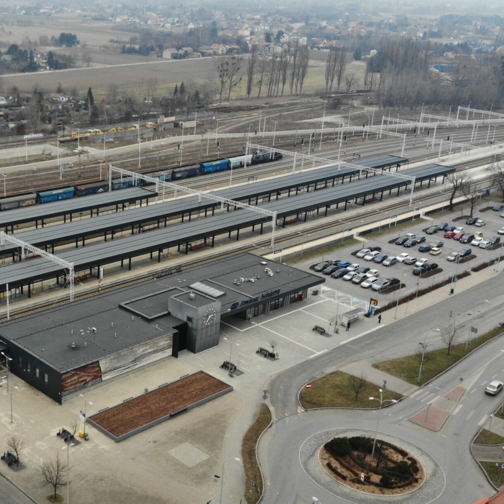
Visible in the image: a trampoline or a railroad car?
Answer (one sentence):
The one in the frame is a railroad car.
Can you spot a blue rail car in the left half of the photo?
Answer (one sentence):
Yes, the scene does show a blue rail car in the left half of the photo.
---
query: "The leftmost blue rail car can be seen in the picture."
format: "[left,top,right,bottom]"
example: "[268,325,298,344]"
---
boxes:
[36,186,75,203]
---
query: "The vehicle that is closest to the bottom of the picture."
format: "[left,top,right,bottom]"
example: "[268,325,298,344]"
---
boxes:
[482,382,504,396]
